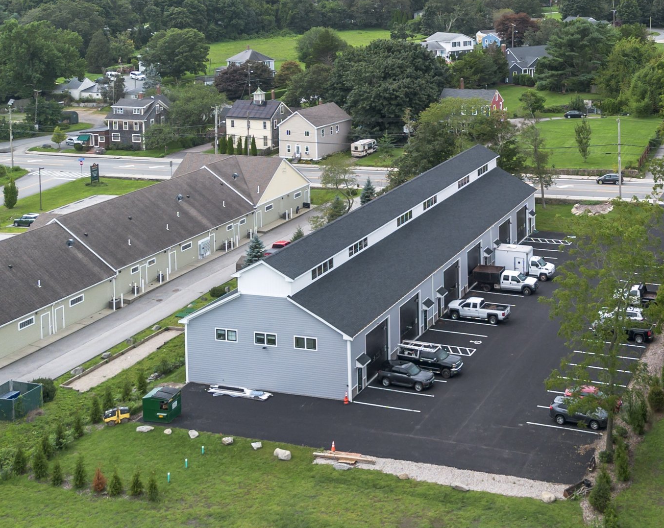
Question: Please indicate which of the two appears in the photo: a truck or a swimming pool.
truck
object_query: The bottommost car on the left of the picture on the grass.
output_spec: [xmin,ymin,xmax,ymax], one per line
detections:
[10,212,44,226]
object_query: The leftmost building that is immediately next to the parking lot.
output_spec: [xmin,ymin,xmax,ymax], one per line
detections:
[0,151,315,358]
